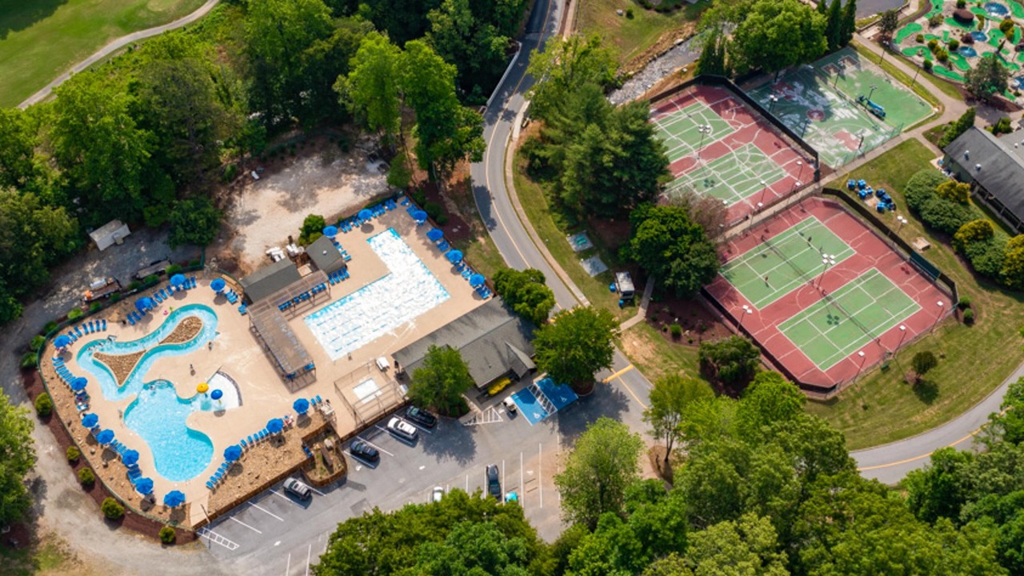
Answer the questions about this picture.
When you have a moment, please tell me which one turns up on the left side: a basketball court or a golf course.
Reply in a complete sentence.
Looking on the left side, you will find a golf course.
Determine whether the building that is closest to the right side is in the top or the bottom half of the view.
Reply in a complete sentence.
You can find the building that is closest to the right side in the top half.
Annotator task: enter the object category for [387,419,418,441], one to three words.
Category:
car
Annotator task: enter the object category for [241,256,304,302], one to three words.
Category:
building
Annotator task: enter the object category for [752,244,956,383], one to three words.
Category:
tennis court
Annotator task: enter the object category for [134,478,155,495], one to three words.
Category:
umbrella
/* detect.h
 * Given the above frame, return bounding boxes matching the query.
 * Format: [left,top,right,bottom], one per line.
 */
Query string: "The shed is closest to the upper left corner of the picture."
[89,222,132,258]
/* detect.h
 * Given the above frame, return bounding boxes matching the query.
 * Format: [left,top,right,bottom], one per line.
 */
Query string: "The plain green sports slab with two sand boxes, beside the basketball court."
[819,46,938,131]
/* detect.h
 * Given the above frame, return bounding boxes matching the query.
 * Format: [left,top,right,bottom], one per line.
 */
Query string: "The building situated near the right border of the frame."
[940,127,1024,237]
